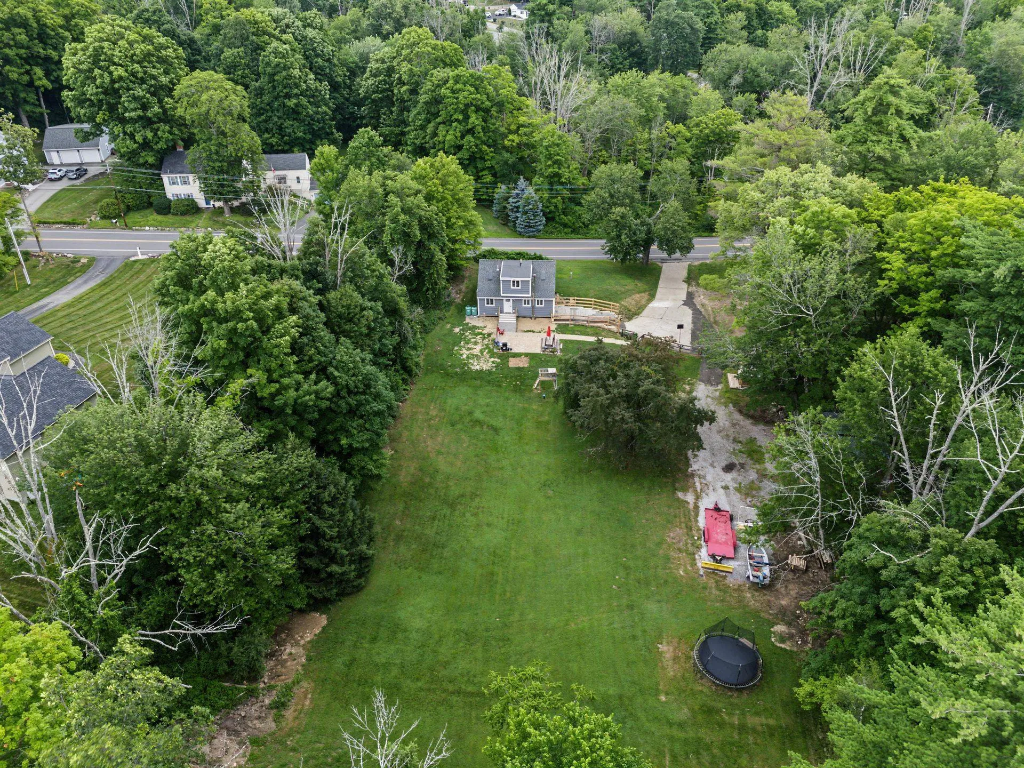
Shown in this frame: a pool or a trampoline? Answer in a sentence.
The image shows a trampoline.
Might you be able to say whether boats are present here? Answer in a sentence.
Yes, I can see a boat in this picture.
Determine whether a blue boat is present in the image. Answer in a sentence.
No, the scene contains no blue boat.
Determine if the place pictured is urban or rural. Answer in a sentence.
From above, the setting appears rural.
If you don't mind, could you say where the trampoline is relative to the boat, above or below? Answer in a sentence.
The trampoline appears below the boat in the picture.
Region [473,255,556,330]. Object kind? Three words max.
house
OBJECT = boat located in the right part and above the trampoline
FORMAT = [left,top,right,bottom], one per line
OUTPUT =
[744,544,772,590]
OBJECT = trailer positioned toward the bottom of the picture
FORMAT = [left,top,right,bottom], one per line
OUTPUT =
[702,498,737,560]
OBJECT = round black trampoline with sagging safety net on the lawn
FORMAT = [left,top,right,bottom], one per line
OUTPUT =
[693,615,768,698]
